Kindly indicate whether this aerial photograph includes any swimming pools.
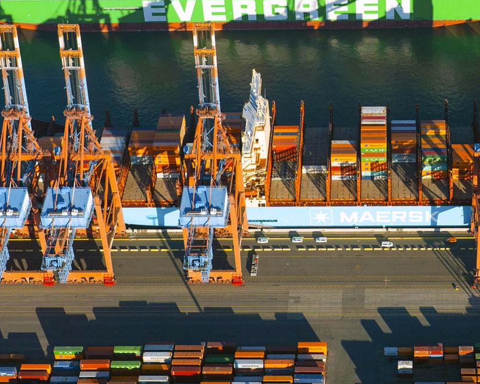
No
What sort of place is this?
port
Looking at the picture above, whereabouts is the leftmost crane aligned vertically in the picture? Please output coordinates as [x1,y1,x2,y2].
[0,19,69,286]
